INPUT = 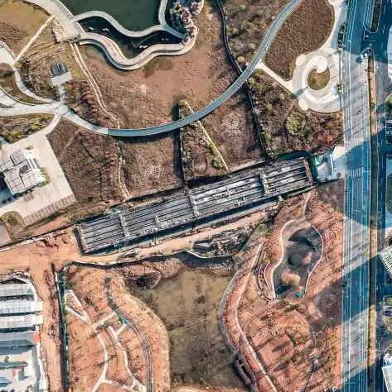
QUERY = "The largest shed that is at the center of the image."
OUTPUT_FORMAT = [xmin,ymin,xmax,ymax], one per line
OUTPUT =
[79,158,316,252]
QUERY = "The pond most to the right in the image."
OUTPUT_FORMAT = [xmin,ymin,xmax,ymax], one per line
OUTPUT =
[274,229,322,300]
